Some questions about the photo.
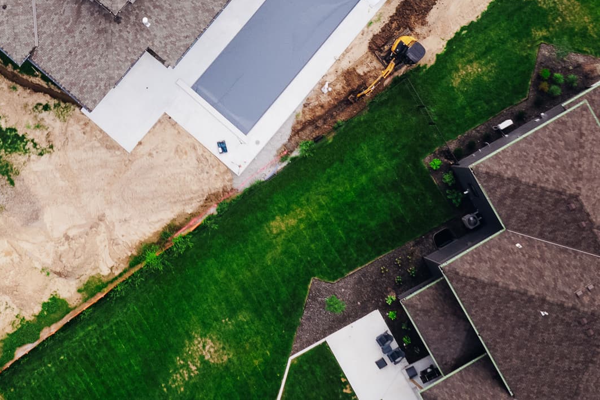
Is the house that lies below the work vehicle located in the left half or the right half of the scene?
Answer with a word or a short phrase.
right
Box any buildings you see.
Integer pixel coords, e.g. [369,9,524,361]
[396,77,600,400]
[0,0,232,113]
